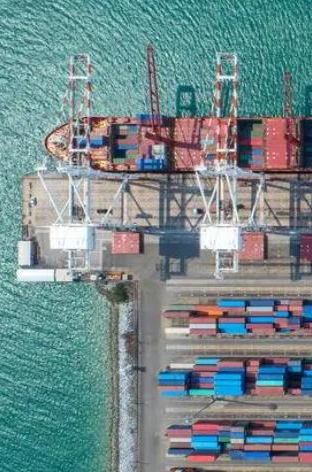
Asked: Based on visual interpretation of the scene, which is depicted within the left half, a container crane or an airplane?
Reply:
container crane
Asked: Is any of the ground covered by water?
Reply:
Yes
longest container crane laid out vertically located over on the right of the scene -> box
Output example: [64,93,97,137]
[199,52,277,282]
